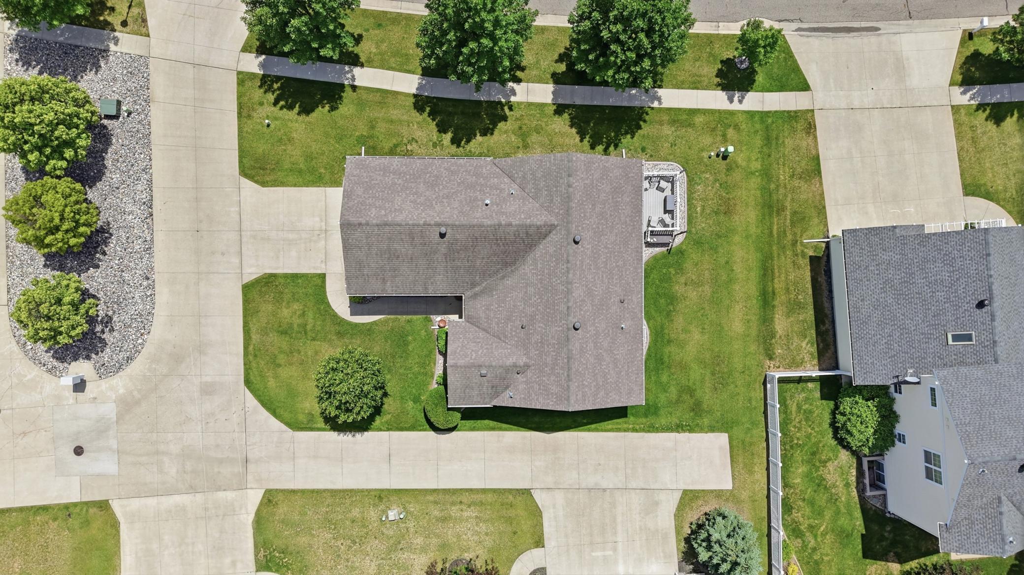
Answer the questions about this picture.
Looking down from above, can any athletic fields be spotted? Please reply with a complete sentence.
No, no athletic field is visible in the view.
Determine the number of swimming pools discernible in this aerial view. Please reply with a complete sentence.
The photo contains no swimming pools.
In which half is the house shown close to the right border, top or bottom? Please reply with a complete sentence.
You can find the house shown close to the right border in the bottom half.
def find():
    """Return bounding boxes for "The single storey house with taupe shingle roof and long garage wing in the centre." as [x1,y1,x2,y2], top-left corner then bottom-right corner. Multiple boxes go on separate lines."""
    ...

[338,147,646,412]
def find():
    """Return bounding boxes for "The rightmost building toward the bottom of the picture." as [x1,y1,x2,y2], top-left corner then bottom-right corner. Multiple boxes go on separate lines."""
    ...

[803,222,1024,559]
